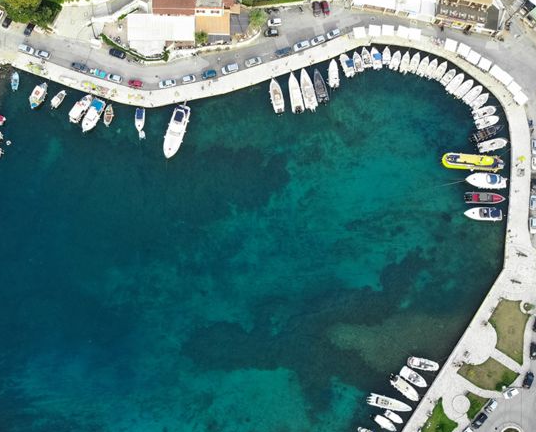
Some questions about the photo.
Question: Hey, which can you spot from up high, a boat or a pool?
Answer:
boat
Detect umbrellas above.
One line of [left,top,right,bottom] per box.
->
[444,37,457,51]
[409,27,421,40]
[477,57,491,71]
[513,90,529,105]
[382,23,394,35]
[456,43,470,57]
[369,23,381,36]
[506,80,521,95]
[396,24,409,37]
[466,50,481,64]
[488,63,514,87]
[352,26,365,38]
